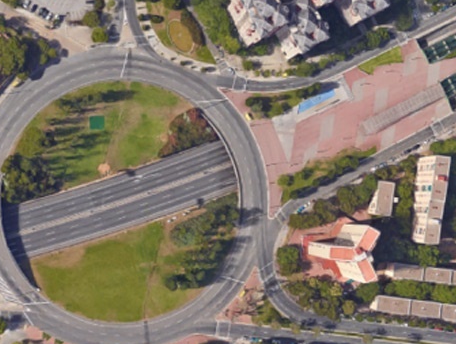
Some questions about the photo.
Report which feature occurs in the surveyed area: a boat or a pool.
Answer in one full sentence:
I can see a pool in this picture.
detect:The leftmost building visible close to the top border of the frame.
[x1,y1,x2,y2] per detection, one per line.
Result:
[228,0,287,53]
